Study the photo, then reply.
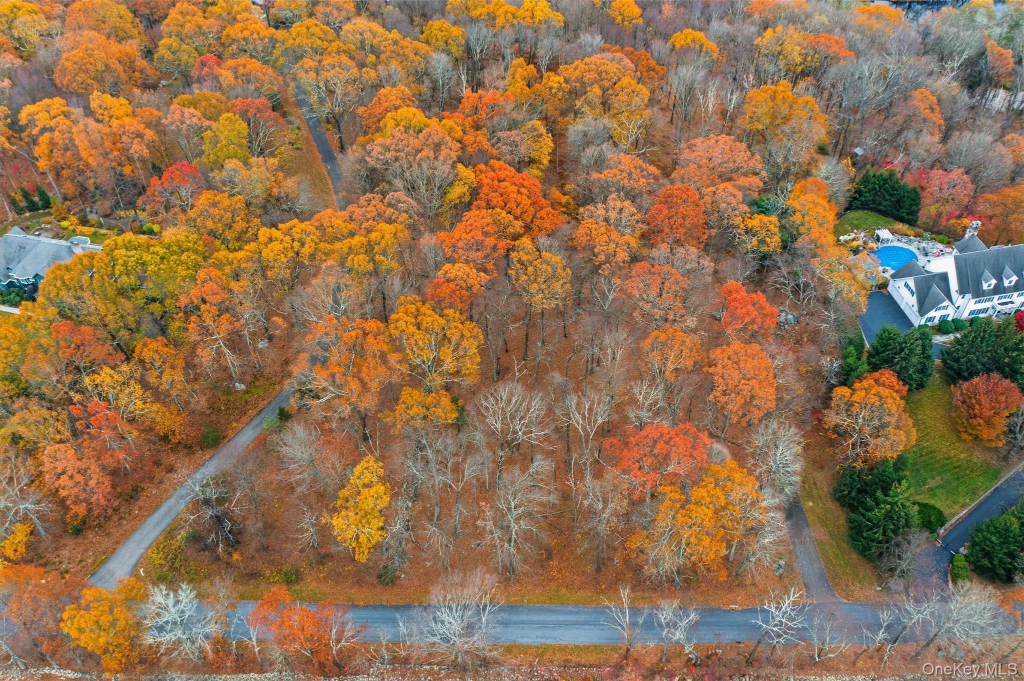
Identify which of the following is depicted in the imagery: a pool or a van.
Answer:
pool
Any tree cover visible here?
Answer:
Yes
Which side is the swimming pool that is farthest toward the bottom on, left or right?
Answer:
right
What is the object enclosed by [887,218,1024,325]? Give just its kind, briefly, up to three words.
house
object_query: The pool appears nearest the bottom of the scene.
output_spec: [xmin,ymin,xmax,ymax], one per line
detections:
[868,243,922,271]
